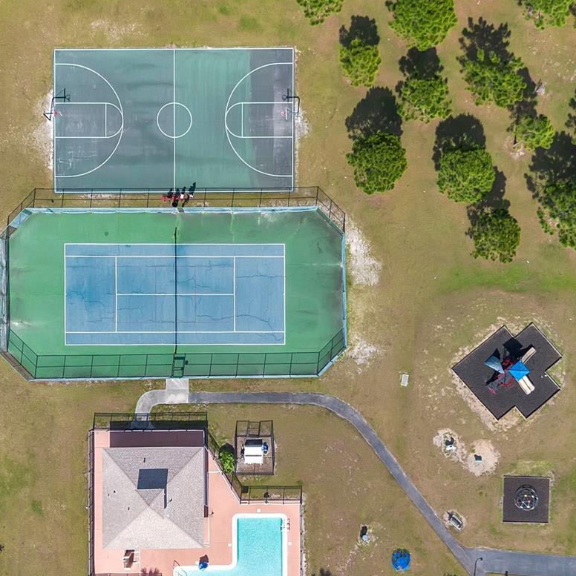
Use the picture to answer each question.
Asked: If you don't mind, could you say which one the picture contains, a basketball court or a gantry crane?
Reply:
basketball court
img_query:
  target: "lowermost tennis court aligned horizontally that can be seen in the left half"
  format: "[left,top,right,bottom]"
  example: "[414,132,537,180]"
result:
[8,210,343,377]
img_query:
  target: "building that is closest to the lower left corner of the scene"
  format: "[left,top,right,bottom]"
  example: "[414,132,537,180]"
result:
[103,446,211,548]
